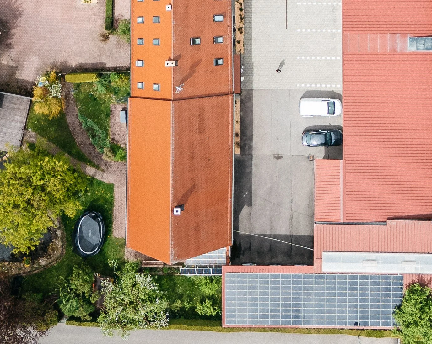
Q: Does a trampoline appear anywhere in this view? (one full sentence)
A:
Yes, there is a trampoline in the image.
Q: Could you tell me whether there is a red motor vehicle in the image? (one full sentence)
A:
No, I find no red motor vehicle anywhere in the image.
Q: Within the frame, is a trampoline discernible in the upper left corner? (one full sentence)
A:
No, I see no trampoline in the upper left corner.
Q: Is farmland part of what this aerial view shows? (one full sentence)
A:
No, there is no farmland in the image.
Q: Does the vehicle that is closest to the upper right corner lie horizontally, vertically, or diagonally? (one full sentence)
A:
The vehicle that is closest to the upper right corner runs horizontally in the image.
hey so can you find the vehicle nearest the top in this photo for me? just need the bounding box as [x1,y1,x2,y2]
[299,97,341,117]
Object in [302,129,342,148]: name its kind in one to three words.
car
